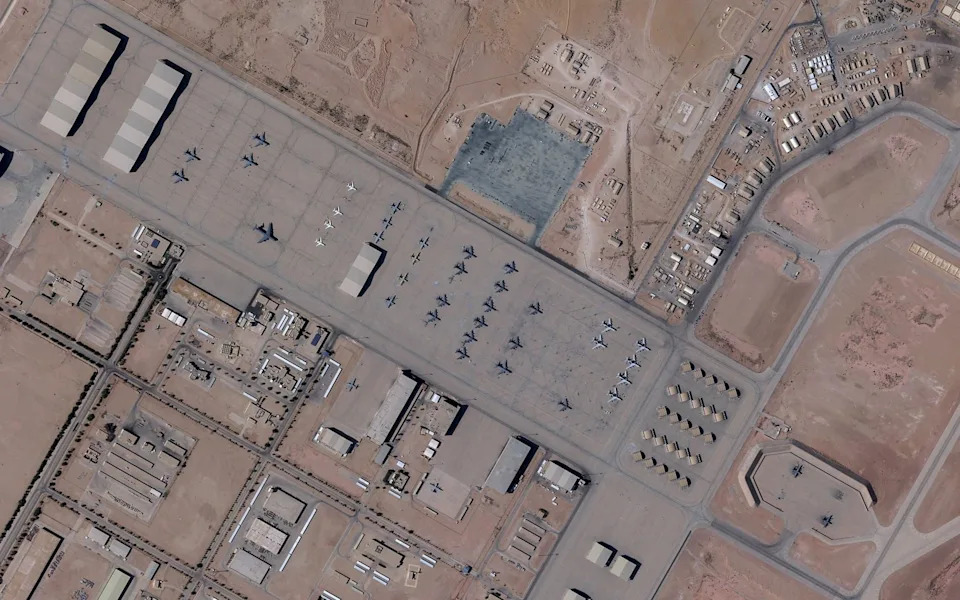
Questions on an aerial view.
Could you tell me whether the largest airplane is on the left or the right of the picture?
left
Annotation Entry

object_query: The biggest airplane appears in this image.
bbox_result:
[253,222,277,242]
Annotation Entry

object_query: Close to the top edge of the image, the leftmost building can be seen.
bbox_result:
[40,24,121,137]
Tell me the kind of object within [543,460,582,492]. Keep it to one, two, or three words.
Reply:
hangar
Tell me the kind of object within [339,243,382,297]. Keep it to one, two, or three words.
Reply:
hangar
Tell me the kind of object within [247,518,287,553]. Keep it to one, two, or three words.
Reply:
building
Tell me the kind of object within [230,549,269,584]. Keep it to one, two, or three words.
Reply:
building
